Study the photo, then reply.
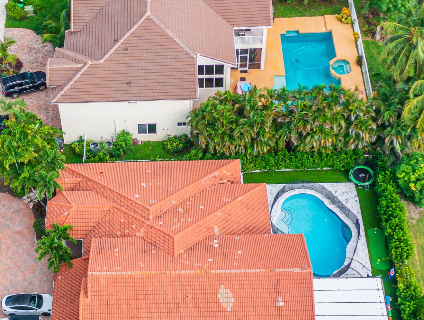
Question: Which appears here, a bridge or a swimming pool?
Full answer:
It is a swimming pool that can be seen here.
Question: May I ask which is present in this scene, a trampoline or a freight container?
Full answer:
This aerial view contains a trampoline.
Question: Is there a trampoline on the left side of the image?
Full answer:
No, the scene shows no trampoline on the left side of the image.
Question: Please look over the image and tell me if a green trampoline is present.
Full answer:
Yes, the picture does show a green trampoline.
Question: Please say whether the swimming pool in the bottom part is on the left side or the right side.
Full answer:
The swimming pool in the bottom part sits on the right side.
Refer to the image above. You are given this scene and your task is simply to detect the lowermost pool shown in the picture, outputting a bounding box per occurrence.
[271,189,357,277]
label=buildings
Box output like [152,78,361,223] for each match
[46,0,275,141]
[45,159,317,320]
